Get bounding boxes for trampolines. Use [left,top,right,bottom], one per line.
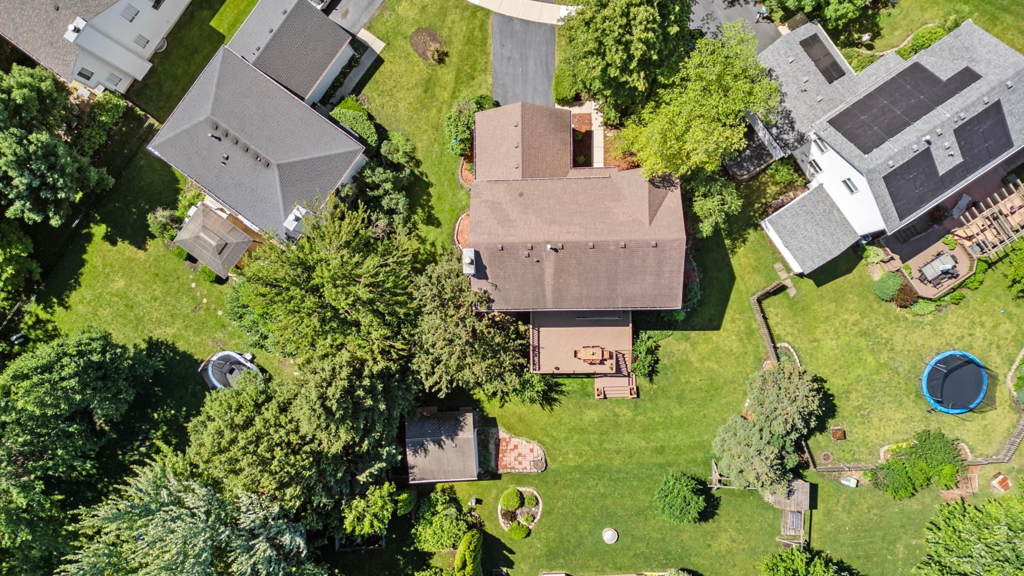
[199,349,268,407]
[915,347,1001,419]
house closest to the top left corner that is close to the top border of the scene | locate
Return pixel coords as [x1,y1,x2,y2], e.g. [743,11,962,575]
[0,0,192,101]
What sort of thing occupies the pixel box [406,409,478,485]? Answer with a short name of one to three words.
shed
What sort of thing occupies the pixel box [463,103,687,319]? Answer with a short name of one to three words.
house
